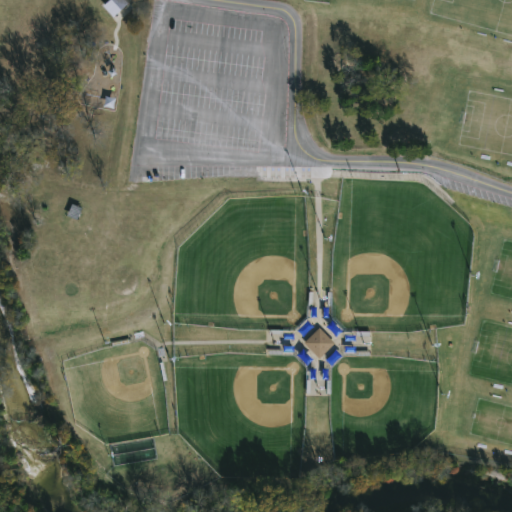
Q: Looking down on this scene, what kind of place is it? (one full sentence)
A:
This image shows a sports ground.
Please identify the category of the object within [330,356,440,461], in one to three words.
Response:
baseball field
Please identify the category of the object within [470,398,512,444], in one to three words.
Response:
soccer field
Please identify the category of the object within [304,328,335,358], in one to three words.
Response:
building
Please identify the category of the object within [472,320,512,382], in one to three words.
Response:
soccer field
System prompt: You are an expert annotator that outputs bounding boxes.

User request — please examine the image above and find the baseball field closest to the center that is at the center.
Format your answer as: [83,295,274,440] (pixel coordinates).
[174,197,309,330]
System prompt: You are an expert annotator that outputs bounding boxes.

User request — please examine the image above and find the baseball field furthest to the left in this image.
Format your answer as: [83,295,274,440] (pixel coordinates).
[64,340,168,444]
